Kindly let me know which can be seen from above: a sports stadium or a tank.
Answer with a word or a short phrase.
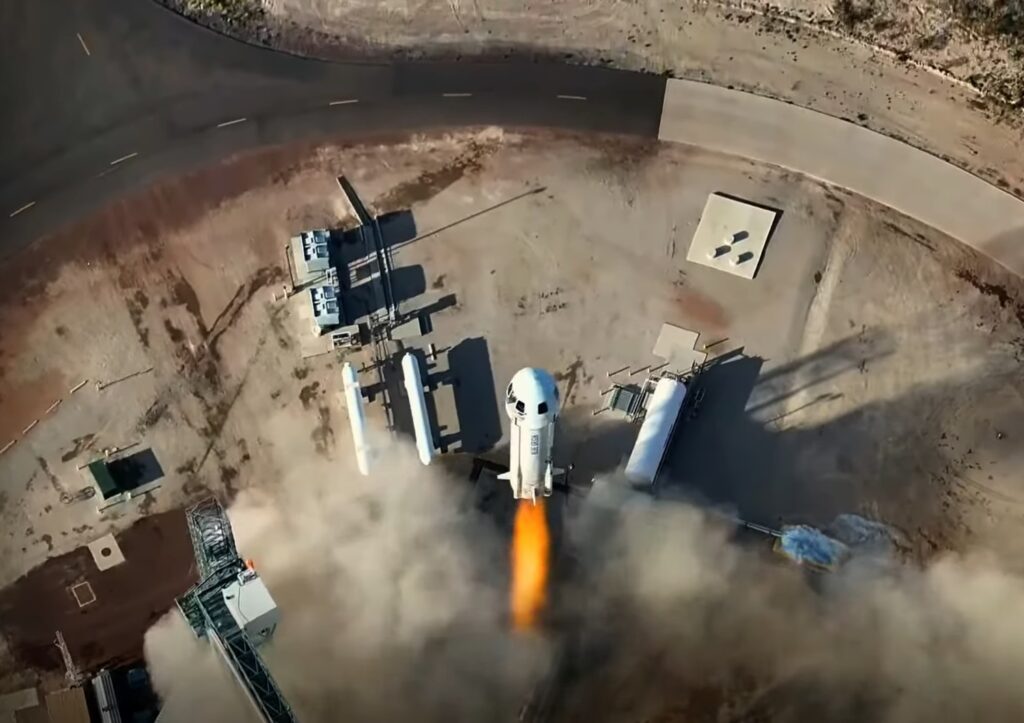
tank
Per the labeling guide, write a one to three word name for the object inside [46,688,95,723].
shed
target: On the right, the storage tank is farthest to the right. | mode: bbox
[625,365,696,495]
